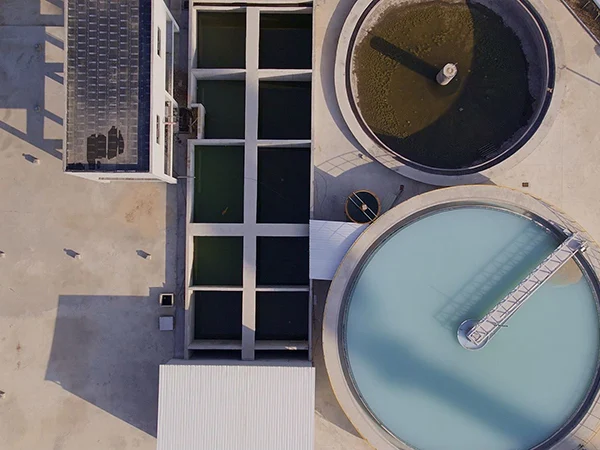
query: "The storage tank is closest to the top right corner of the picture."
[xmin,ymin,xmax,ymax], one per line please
[334,0,567,188]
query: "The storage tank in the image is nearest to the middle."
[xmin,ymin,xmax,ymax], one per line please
[344,189,380,223]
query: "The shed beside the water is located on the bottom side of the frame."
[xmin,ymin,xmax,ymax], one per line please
[158,354,314,450]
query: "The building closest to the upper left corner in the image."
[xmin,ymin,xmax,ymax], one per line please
[63,0,178,183]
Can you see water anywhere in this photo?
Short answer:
Yes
